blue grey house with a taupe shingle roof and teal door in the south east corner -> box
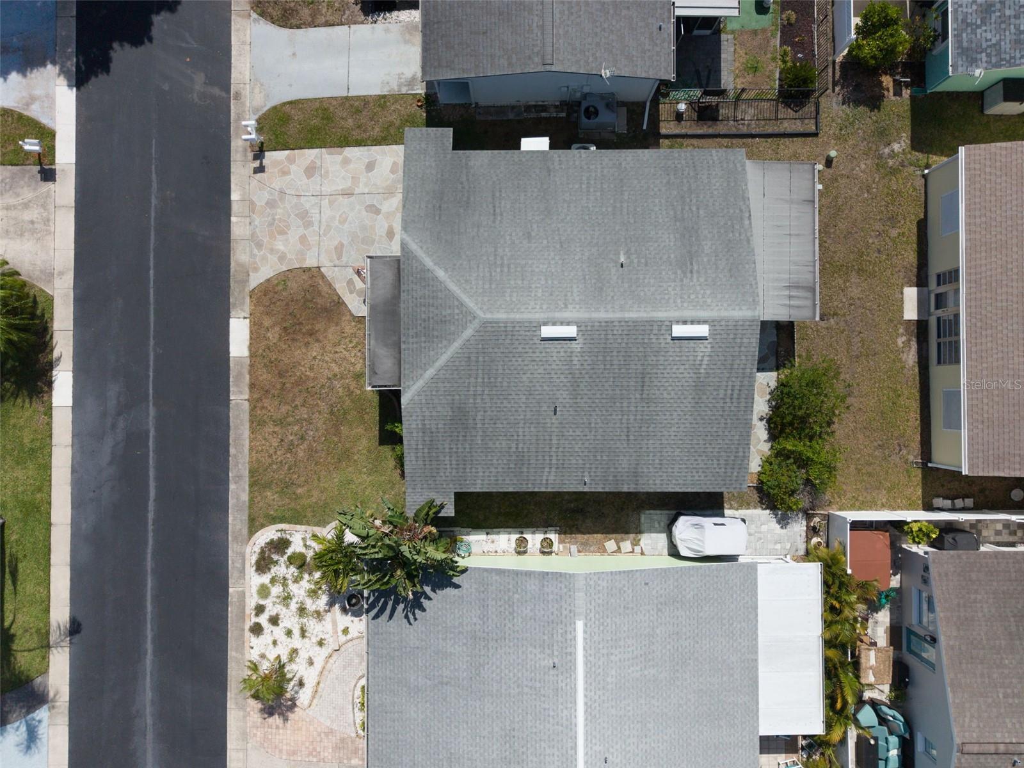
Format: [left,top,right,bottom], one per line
[900,542,1024,768]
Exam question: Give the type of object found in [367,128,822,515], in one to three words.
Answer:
house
